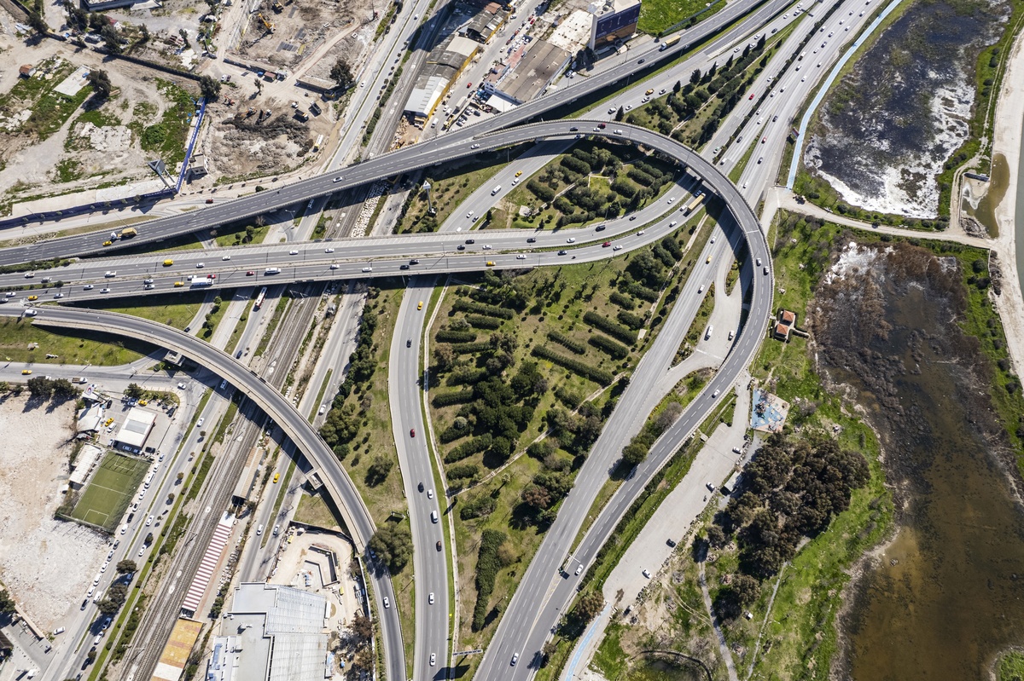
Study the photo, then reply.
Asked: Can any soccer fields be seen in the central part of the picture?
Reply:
No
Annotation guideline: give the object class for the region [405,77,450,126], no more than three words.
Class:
building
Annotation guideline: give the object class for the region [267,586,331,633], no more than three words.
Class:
building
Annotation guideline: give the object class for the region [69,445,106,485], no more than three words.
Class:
shed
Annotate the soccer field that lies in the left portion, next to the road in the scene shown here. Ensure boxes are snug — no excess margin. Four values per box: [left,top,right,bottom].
[66,452,148,532]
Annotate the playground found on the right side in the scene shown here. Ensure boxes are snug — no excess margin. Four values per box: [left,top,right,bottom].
[752,389,789,432]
